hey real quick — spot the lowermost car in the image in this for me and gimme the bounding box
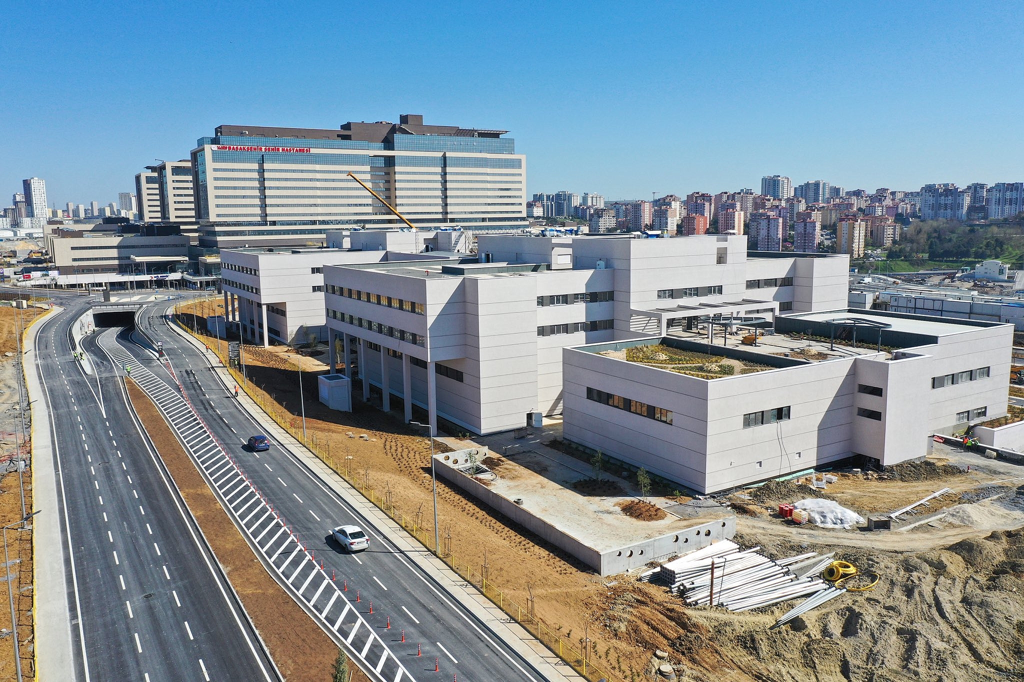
[333,518,371,548]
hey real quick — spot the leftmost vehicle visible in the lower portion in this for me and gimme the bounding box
[249,430,272,447]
